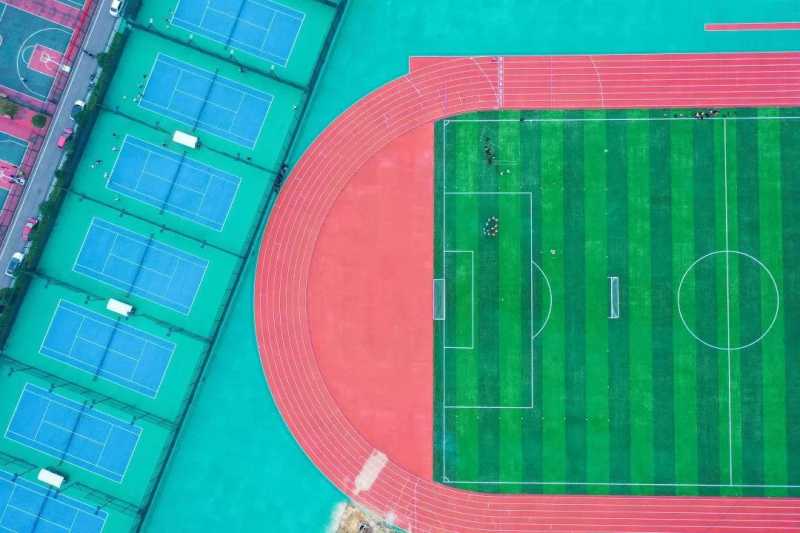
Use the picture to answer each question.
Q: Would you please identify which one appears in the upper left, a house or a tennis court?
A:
tennis court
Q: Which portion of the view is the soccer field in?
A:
right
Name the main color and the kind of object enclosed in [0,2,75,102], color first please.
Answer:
blue basketball court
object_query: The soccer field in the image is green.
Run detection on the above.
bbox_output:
[433,106,800,499]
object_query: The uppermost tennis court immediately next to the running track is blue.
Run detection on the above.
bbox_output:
[130,0,335,89]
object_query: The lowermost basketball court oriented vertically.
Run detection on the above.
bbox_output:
[0,131,30,216]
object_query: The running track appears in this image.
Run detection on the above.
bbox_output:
[253,52,800,533]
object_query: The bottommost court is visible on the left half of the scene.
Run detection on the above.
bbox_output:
[0,454,145,533]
